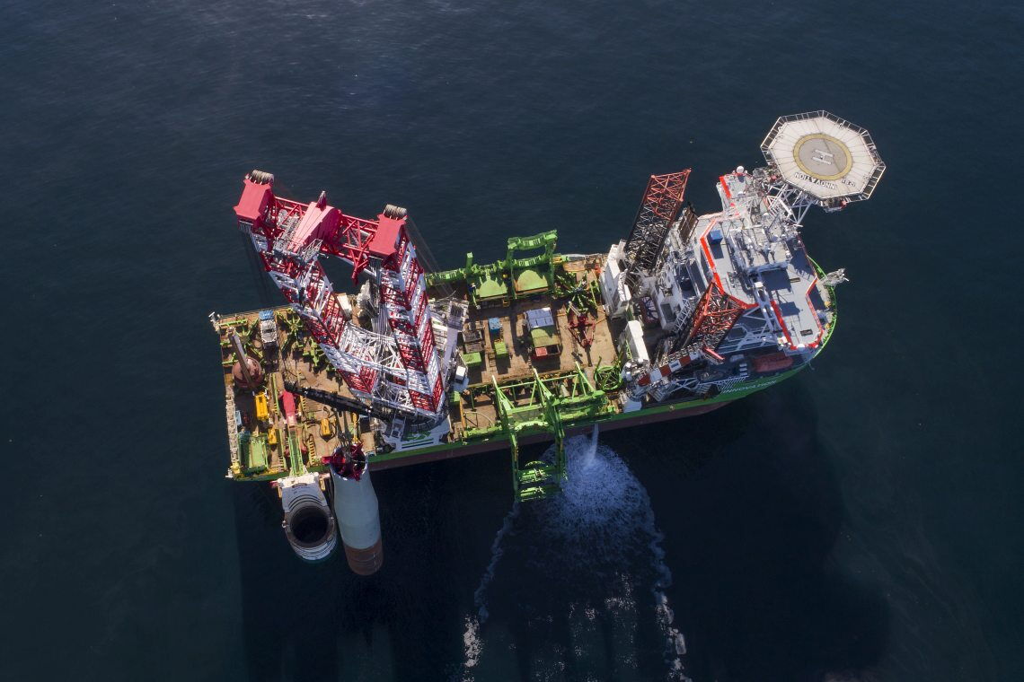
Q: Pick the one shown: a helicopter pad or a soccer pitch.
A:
helicopter pad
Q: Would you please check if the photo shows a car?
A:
No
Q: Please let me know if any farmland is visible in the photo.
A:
No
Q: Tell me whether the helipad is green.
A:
No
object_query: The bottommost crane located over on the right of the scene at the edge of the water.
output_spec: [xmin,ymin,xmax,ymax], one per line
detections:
[620,339,716,410]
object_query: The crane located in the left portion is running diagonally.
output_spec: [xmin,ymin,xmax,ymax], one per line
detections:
[230,168,470,451]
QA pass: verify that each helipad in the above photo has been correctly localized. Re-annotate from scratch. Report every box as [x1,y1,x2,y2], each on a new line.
[760,111,888,264]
